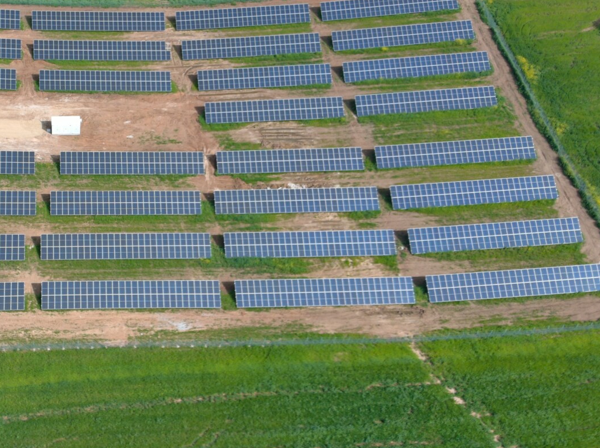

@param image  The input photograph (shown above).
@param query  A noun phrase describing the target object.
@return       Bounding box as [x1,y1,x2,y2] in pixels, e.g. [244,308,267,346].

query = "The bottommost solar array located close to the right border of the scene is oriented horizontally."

[425,265,600,301]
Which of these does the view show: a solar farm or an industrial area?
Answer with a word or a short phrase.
solar farm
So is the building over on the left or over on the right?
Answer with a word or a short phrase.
left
